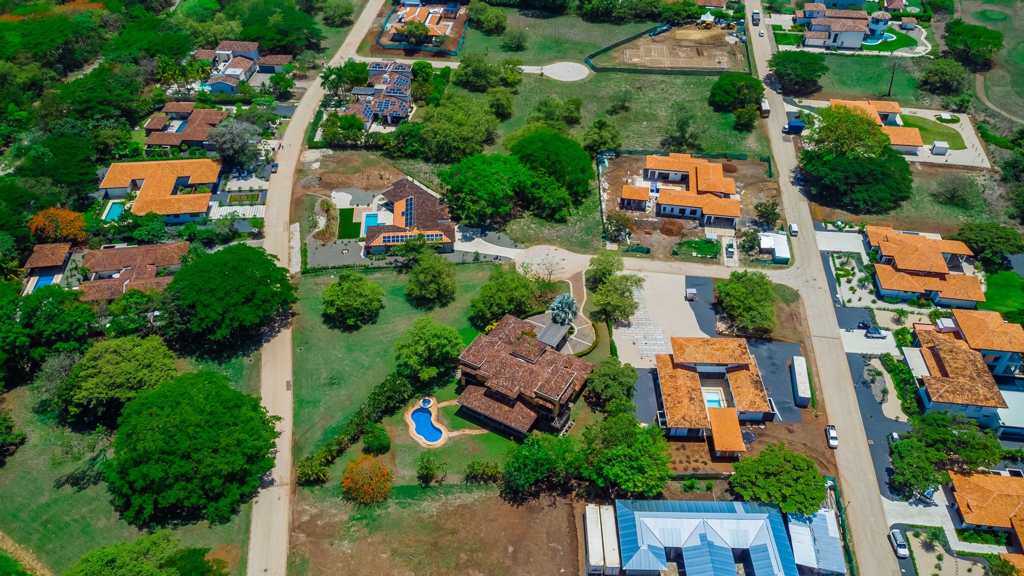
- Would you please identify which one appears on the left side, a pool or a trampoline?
pool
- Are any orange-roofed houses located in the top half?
Yes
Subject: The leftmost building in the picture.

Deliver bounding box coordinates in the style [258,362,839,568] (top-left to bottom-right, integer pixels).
[24,242,74,277]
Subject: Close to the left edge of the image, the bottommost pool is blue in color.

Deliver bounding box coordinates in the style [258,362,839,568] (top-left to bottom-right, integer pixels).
[29,274,56,292]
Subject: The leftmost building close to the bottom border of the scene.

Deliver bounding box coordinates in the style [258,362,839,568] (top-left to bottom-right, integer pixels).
[616,499,800,576]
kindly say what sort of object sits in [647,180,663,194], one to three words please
swimming pool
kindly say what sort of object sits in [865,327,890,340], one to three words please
vehicle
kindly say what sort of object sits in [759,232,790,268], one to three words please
shed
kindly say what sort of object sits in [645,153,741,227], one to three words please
house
